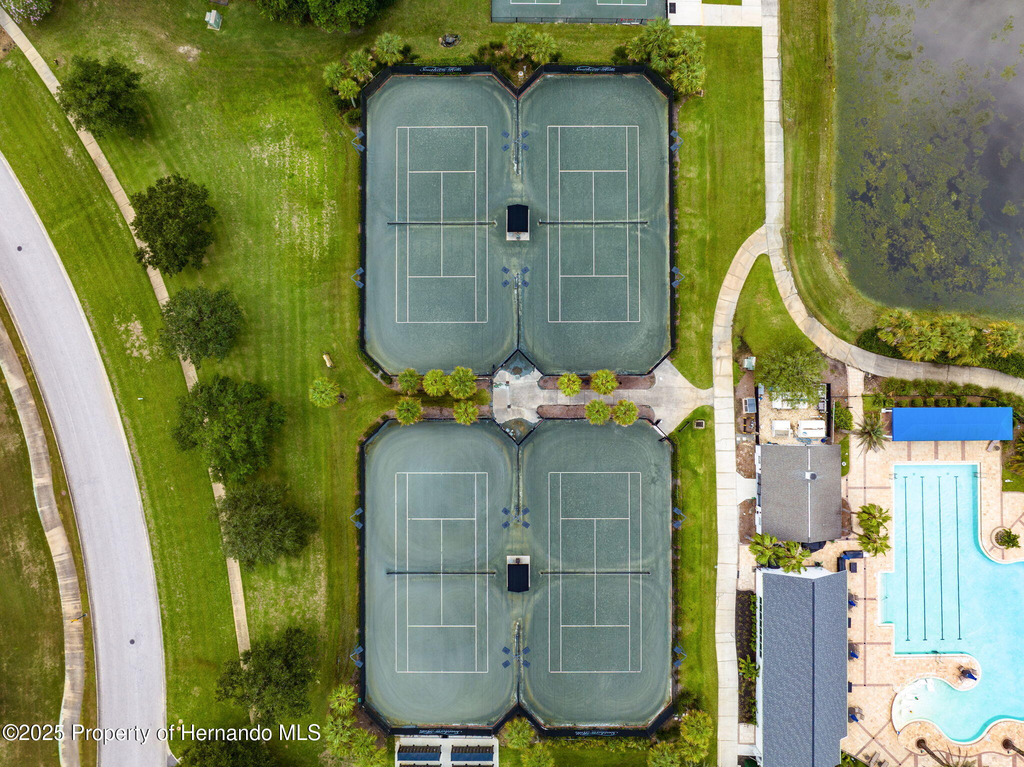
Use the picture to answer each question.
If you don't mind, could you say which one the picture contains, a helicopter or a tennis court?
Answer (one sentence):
The image shows a tennis court.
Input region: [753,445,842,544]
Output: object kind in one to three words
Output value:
building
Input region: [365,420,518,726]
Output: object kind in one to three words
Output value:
tennis court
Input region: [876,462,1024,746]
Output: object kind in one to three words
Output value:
swimming pool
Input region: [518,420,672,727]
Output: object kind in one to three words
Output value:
tennis court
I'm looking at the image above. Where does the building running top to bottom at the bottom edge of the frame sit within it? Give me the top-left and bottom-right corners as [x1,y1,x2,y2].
[750,570,849,767]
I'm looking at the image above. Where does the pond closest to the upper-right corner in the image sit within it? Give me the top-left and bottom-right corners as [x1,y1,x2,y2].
[829,0,1024,328]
